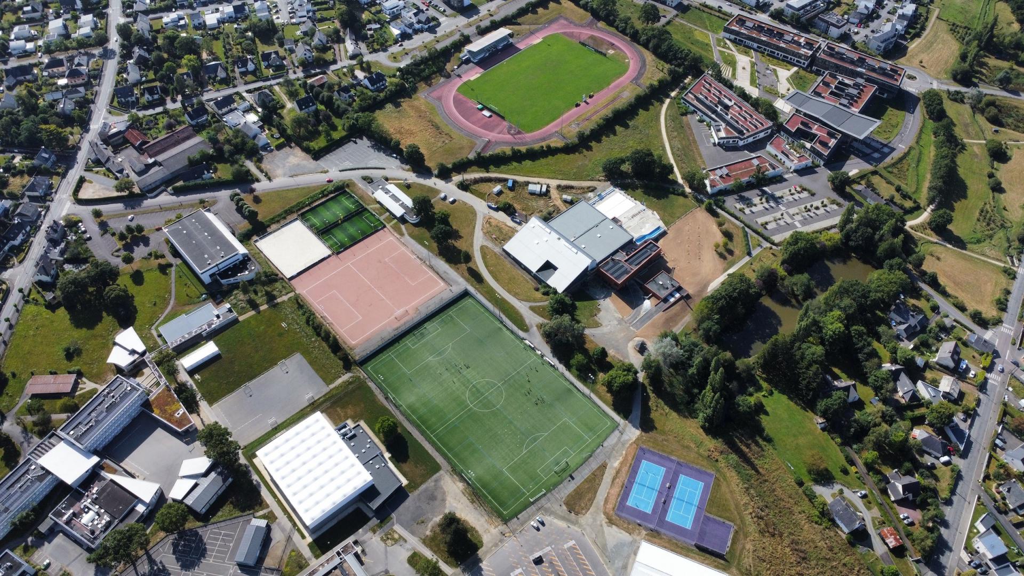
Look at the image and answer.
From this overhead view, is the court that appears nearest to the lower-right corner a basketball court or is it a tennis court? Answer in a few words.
tennis court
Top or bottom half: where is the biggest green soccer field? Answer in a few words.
bottom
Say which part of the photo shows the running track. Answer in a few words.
top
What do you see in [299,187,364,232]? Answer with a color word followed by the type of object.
green sports field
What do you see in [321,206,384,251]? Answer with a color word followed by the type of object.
green sports field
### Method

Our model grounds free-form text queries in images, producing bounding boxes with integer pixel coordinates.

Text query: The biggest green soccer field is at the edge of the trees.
[361,296,617,520]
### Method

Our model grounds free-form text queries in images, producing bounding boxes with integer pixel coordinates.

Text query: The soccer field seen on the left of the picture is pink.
[288,227,466,360]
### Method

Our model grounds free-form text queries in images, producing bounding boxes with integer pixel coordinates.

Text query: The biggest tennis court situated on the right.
[615,446,733,551]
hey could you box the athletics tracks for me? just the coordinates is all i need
[419,15,647,153]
